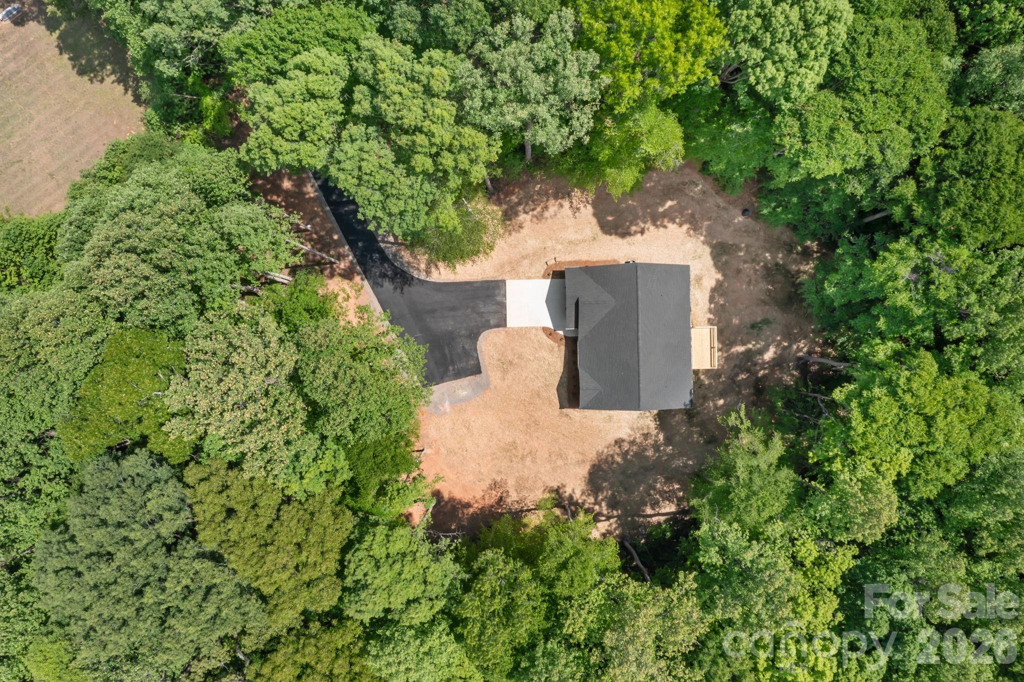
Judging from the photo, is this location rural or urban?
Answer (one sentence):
From above, the setting appears rural.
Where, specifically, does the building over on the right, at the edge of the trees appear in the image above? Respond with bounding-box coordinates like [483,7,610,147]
[563,263,693,411]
